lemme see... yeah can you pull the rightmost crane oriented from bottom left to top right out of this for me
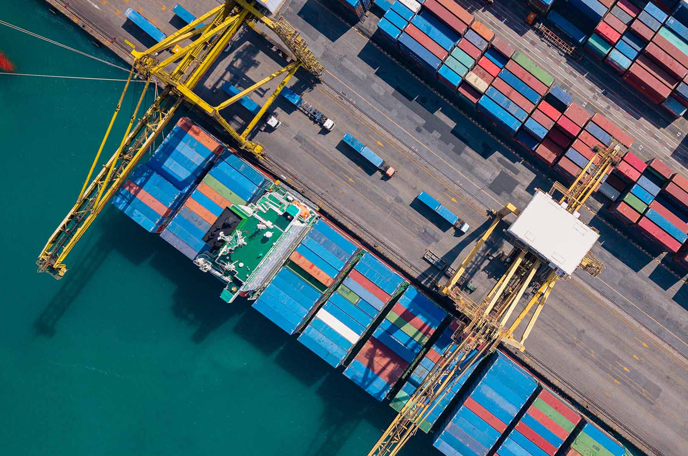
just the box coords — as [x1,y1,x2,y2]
[365,141,628,456]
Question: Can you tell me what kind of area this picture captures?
port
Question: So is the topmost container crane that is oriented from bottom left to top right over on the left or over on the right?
left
